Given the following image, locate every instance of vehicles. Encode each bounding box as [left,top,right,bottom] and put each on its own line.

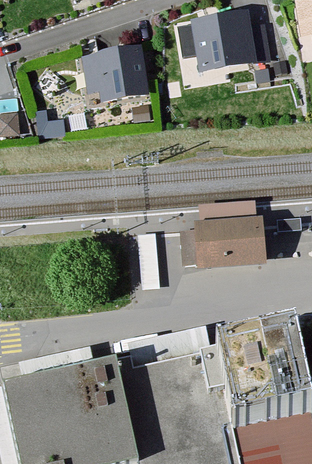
[136,18,150,43]
[0,42,20,57]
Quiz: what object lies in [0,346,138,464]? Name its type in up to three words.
building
